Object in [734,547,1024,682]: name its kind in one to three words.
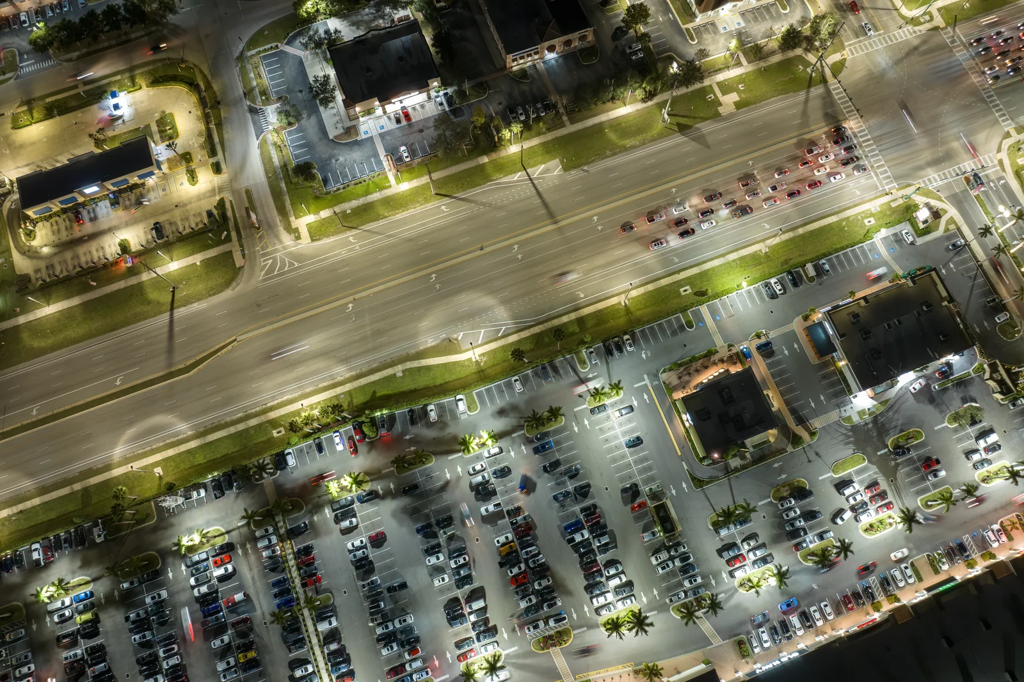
building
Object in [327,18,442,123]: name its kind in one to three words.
building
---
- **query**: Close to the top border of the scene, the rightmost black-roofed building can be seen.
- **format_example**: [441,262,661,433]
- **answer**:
[467,0,593,70]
